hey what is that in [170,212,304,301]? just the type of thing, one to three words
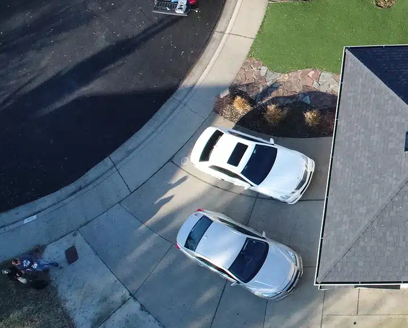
car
